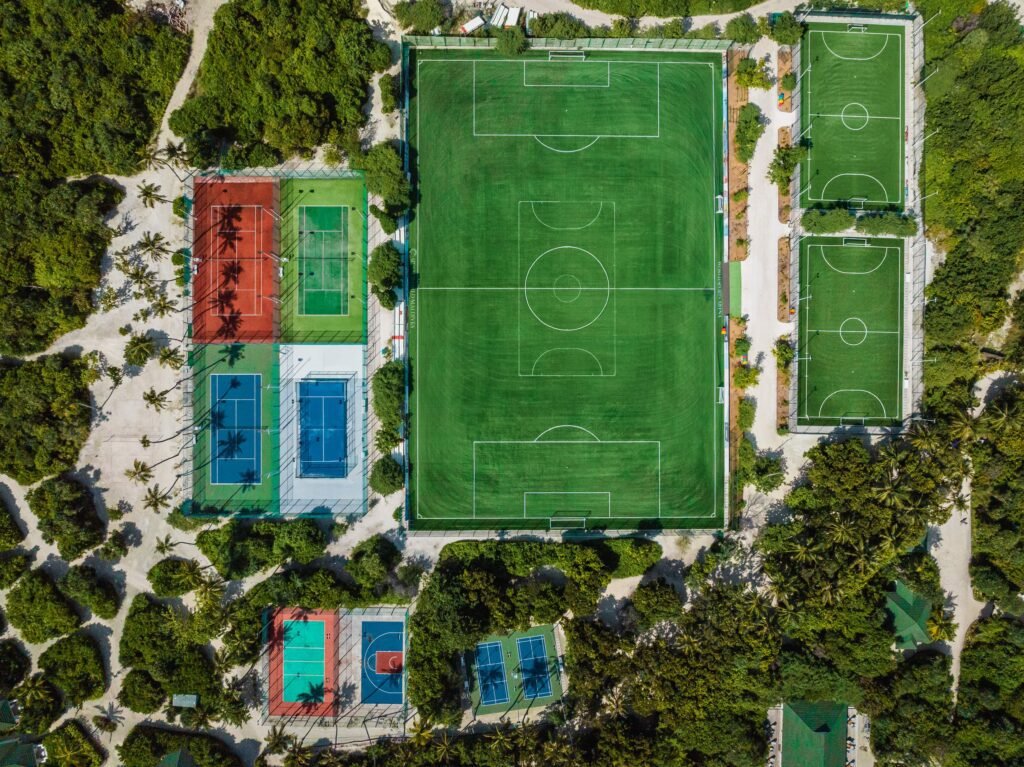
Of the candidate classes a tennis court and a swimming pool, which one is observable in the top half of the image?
tennis court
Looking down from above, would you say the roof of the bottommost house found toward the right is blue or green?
green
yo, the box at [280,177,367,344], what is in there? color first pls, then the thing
green tennis court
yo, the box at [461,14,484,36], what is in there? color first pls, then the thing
white truck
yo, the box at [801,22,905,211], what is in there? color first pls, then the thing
green soccer field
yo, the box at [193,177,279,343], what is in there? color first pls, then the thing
red tennis court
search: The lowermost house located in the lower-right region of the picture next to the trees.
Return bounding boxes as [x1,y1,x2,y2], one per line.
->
[780,699,847,767]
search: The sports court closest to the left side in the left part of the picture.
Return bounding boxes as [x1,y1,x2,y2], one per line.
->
[108,396,163,488]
